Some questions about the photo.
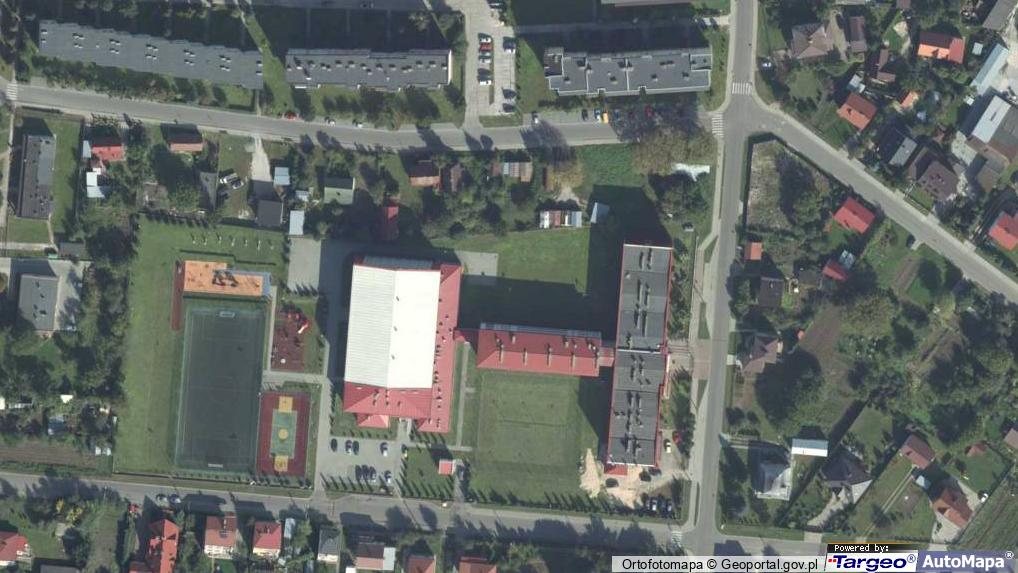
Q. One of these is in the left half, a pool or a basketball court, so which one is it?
basketball court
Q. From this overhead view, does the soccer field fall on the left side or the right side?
left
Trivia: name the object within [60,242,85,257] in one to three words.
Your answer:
shed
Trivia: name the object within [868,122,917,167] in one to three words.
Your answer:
house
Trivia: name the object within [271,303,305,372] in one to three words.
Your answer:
playground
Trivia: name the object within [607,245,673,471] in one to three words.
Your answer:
building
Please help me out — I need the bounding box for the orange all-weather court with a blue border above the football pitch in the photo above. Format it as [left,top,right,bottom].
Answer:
[183,261,270,297]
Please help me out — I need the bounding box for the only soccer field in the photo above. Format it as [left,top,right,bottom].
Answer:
[175,300,267,473]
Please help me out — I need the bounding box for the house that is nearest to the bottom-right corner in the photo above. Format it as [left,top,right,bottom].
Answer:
[933,486,973,529]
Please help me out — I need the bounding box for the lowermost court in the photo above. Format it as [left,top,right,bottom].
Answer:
[256,392,309,475]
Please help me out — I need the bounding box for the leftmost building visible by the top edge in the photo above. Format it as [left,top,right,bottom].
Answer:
[39,20,265,93]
